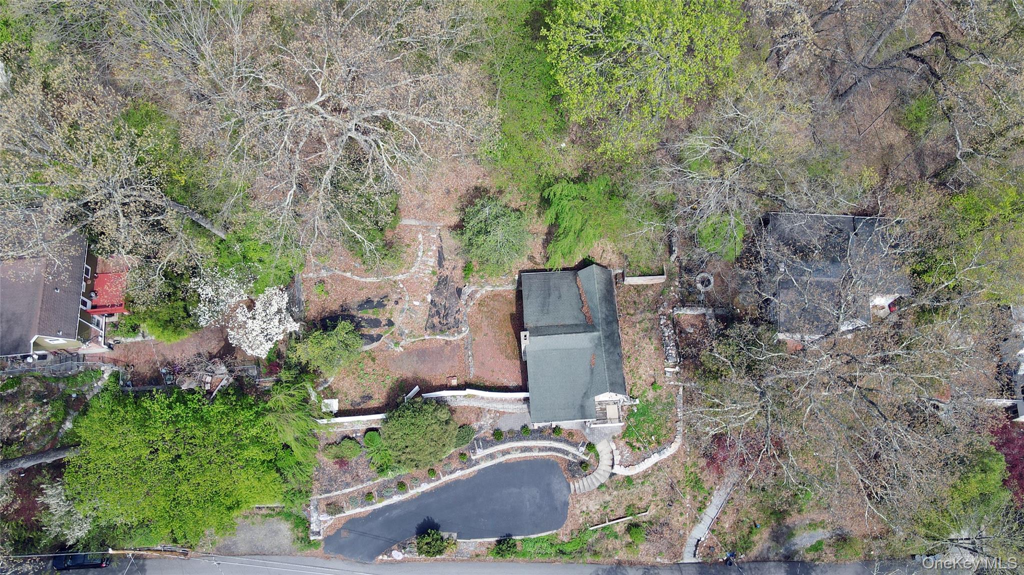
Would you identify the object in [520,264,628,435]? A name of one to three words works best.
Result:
building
